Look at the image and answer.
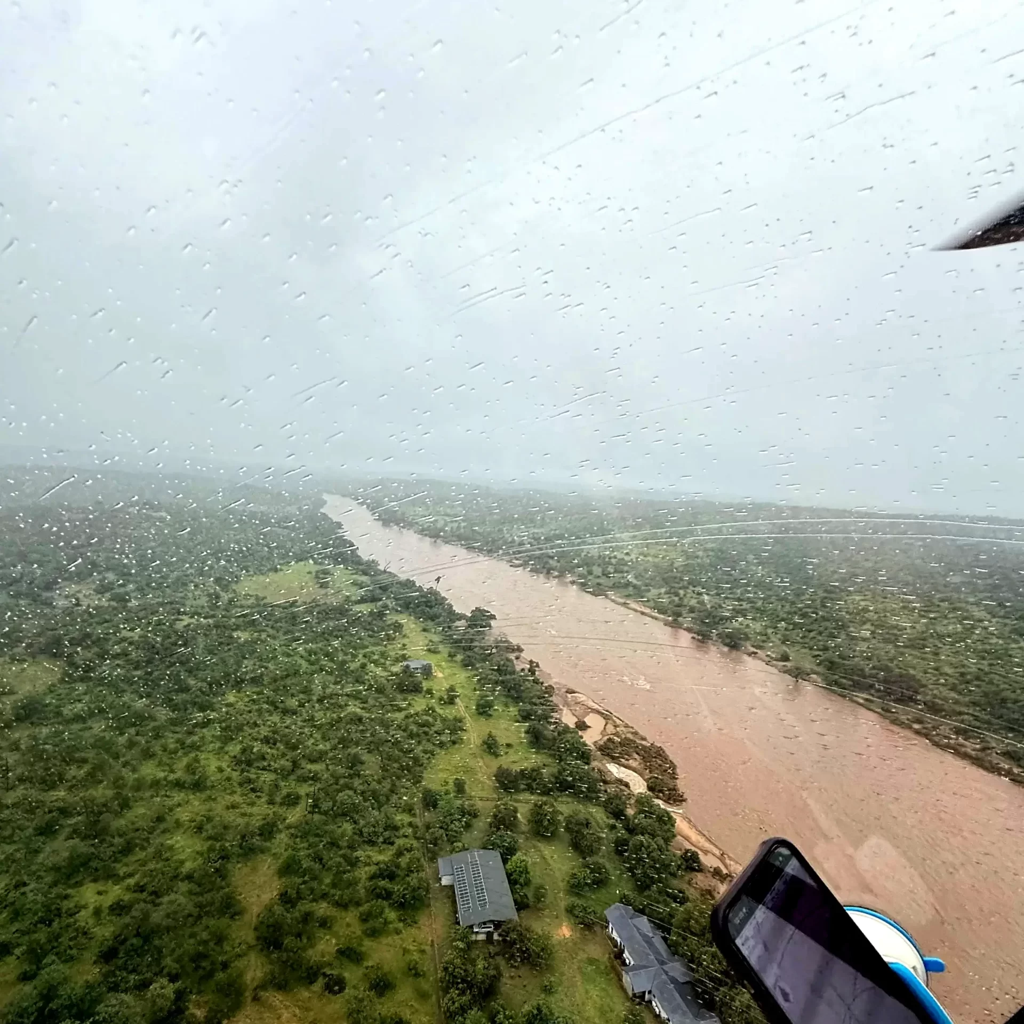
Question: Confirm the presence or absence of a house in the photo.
Yes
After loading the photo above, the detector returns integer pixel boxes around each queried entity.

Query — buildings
[597,902,729,1024]
[404,662,432,673]
[432,845,518,935]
